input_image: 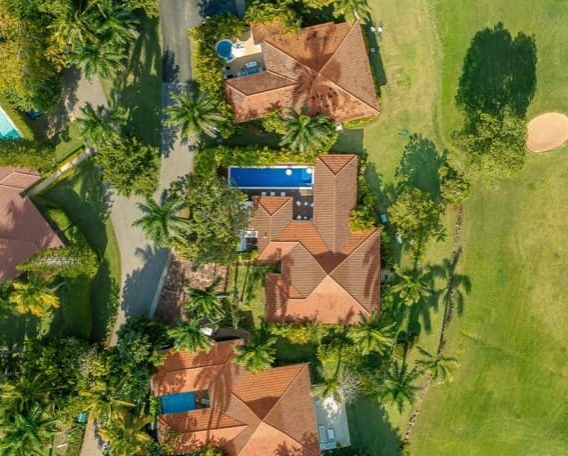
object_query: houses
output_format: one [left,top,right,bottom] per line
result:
[0,167,66,295]
[218,19,380,133]
[154,339,351,456]
[226,154,381,323]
